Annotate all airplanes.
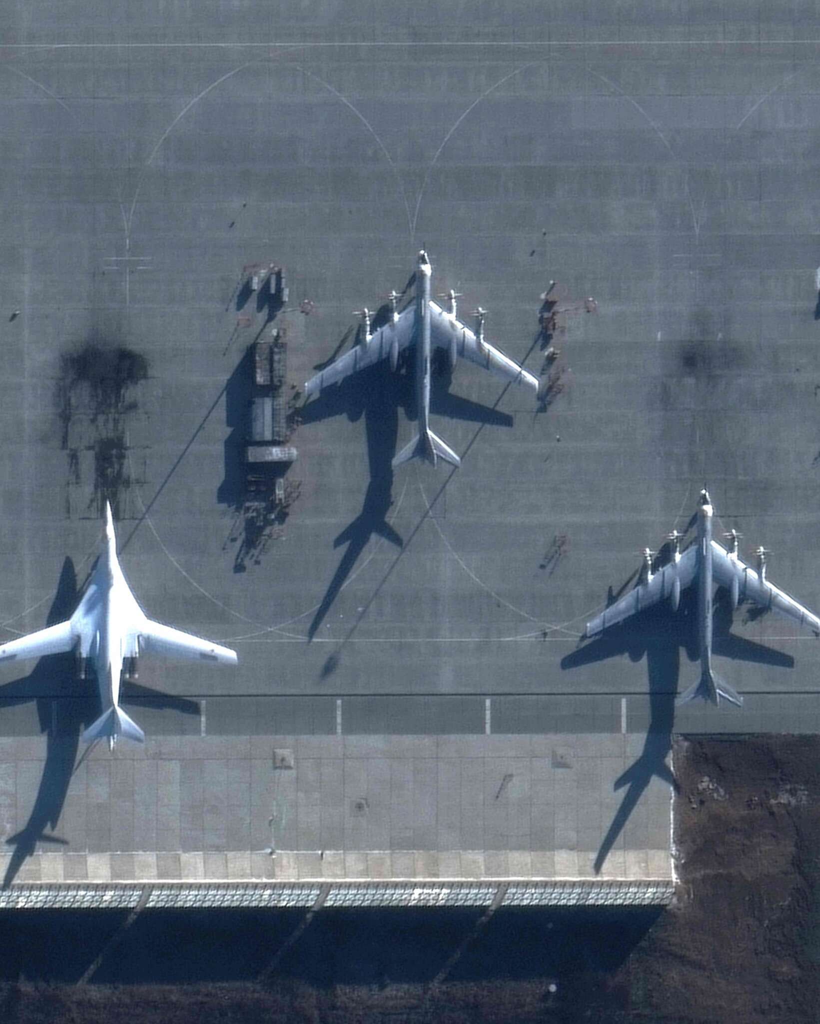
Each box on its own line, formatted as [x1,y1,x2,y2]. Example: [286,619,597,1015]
[588,482,820,714]
[305,249,539,470]
[0,500,237,750]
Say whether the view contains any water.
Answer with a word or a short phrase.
No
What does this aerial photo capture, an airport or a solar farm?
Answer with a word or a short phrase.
airport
